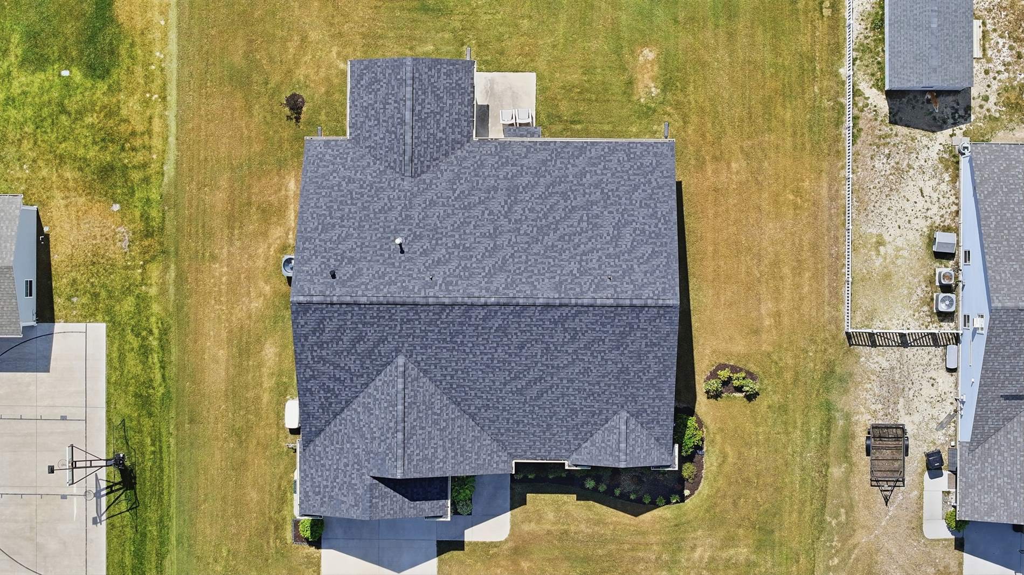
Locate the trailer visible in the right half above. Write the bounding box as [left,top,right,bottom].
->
[865,424,910,506]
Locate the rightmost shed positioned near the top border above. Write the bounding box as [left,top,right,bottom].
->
[884,0,973,90]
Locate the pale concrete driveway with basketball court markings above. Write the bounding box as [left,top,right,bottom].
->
[0,323,106,575]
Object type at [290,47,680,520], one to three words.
house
